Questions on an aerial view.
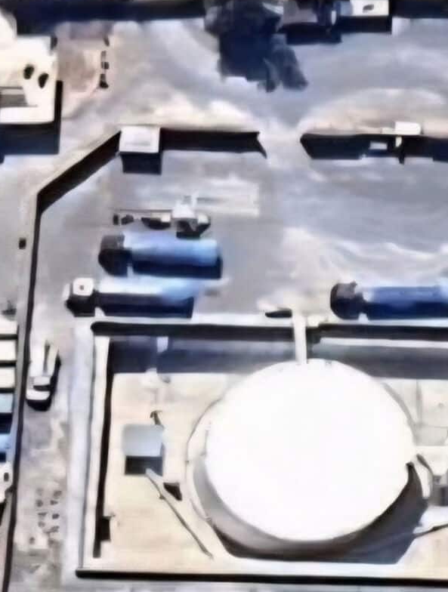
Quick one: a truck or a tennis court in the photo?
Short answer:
truck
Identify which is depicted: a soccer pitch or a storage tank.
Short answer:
storage tank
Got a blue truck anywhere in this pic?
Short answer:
Yes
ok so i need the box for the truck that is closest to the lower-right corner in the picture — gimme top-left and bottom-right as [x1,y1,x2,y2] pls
[331,283,448,315]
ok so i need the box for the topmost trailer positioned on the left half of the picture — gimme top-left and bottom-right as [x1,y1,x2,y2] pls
[114,198,208,234]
